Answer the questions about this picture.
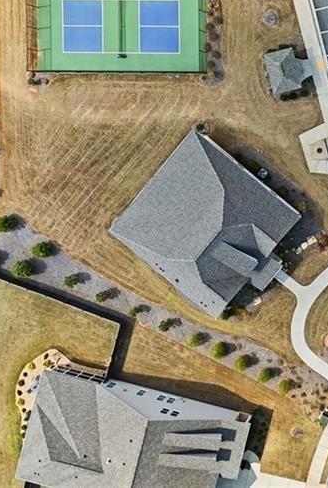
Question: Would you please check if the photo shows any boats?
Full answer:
No, the scene contains no boat.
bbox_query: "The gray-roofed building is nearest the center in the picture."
[110,129,301,318]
